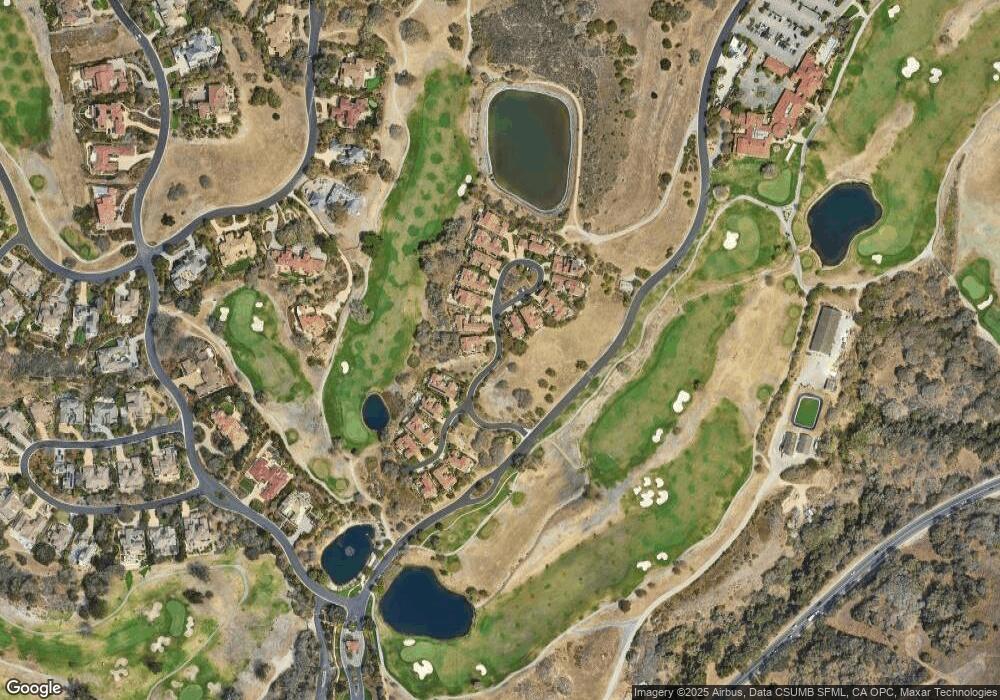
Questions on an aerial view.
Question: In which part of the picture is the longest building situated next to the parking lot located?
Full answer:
You can find the longest building situated next to the parking lot in the top right area of the picture.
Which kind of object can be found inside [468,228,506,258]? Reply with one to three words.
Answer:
house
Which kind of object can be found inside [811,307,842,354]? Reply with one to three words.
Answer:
barn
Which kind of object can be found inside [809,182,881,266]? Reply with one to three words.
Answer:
pond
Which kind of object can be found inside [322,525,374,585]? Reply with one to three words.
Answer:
pond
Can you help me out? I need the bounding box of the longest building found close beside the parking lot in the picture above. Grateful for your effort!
[733,48,825,159]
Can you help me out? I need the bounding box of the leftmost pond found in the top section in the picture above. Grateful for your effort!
[487,90,570,210]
